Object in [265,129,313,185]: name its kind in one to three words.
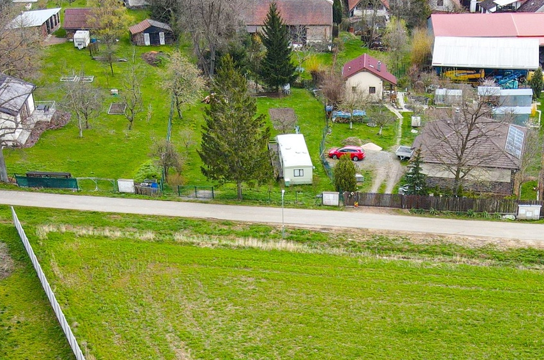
house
